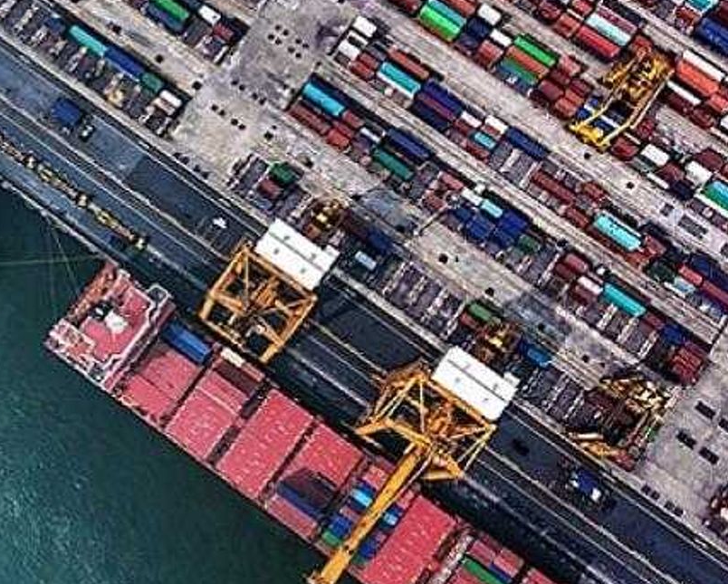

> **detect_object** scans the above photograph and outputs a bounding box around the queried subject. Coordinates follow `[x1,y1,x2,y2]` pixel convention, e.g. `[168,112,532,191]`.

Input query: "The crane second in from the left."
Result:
[303,315,520,584]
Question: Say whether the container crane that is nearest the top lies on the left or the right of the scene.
right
